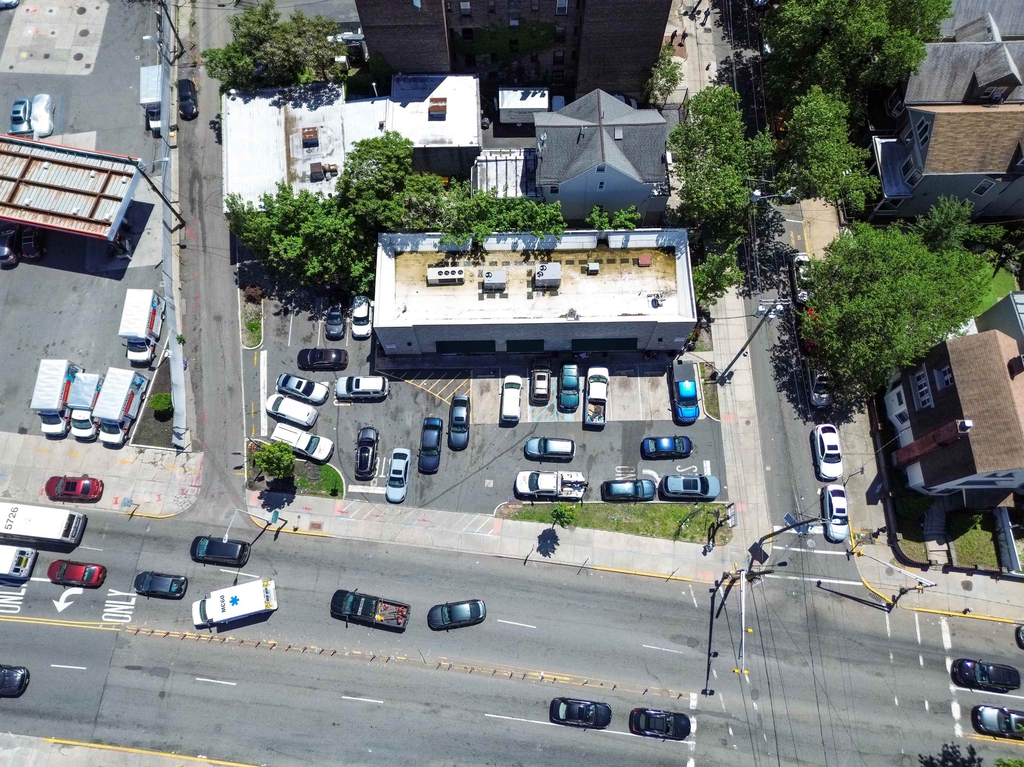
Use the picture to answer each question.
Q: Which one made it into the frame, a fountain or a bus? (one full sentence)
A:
There is a bus in the scene.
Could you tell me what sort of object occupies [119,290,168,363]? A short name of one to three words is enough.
truck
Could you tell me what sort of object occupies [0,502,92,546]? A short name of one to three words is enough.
bus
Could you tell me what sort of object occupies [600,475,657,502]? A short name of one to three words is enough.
car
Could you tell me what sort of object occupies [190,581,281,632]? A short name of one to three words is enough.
van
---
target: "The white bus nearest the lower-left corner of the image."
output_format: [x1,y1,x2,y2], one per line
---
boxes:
[0,542,45,579]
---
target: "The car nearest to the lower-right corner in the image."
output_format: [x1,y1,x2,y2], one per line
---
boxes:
[968,705,1024,739]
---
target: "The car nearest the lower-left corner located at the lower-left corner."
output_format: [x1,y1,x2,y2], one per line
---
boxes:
[0,664,33,695]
